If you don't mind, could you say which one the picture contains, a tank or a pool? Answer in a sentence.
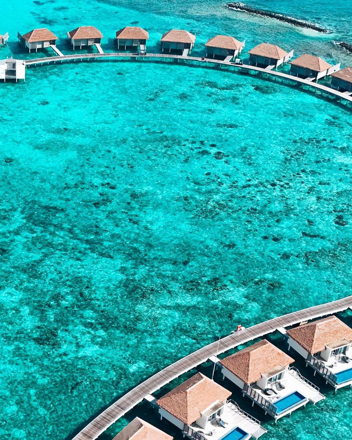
There is a pool in the scene.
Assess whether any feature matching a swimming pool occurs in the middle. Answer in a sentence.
No, no swimming pool is visible in the middle.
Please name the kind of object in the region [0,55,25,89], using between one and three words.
building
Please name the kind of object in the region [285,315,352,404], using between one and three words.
house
